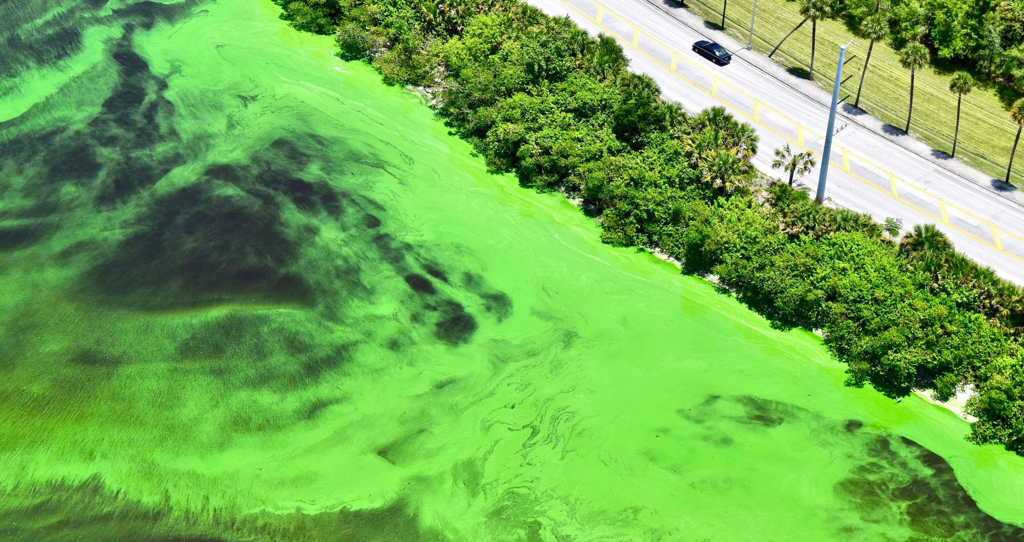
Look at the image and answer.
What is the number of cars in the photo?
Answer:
1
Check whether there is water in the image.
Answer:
Yes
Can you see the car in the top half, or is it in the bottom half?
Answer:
top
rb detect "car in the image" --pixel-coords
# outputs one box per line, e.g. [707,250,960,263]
[691,37,734,62]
